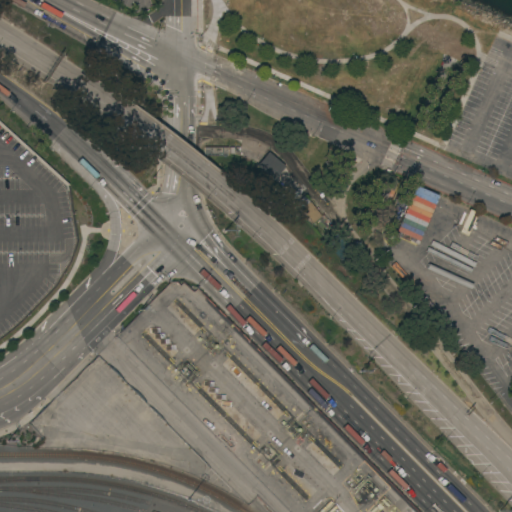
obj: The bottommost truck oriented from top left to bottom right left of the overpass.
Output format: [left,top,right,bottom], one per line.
[78,156,107,188]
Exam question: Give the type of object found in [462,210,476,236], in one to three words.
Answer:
vehicle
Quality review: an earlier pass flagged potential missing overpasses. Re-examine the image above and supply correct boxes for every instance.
[150,127,225,198]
